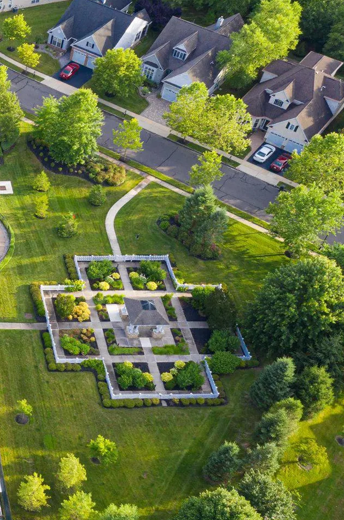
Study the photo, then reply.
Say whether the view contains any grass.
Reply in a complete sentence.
Yes, there's grass in this view.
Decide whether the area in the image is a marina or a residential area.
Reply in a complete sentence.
This looks like a residential area.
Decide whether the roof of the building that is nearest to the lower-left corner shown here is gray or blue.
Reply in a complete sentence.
From above, the roof of the building that is nearest to the lower-left corner appears gray.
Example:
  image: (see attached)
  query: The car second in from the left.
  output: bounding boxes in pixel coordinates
[253,143,276,162]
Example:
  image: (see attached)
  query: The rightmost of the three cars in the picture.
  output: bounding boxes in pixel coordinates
[270,153,293,171]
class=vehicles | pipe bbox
[253,143,276,162]
[60,63,81,78]
[270,153,293,171]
